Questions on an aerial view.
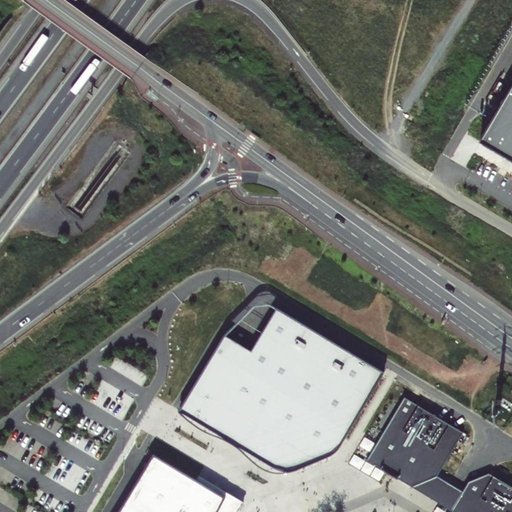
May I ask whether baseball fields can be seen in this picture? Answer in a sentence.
No, I can see no baseball field in this picture.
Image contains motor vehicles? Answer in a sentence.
Yes, there's a motor vehicle here.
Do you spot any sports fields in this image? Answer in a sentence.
No, there appears to be no sports field in this shot.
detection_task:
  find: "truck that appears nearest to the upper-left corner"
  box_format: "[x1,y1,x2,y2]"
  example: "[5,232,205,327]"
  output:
[20,32,50,70]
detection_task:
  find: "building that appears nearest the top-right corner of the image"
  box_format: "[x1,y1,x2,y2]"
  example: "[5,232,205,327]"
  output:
[481,86,512,162]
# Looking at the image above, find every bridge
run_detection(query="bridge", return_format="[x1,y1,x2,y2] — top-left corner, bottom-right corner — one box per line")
[21,0,151,84]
